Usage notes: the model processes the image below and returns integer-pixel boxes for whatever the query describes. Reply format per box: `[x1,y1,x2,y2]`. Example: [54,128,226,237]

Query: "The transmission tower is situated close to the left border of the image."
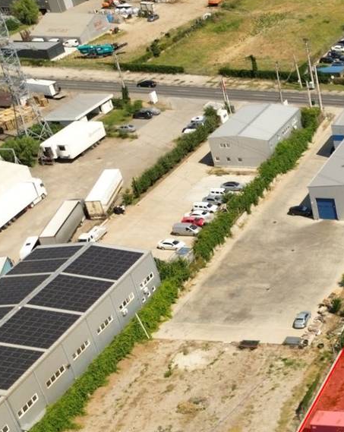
[0,8,55,133]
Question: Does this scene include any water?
No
